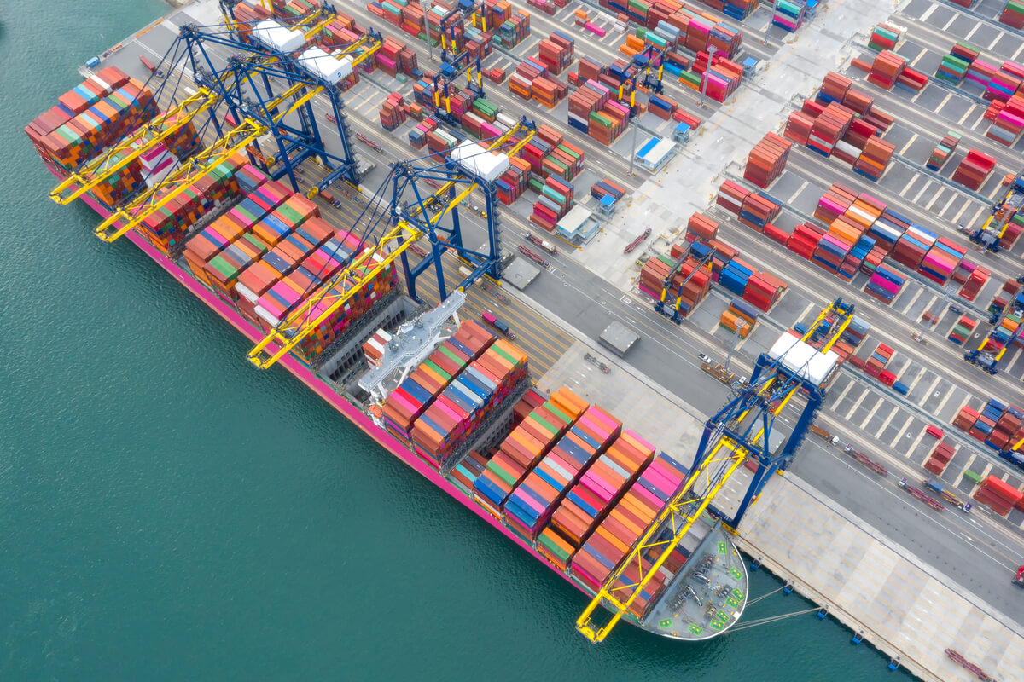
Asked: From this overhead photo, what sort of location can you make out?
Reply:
port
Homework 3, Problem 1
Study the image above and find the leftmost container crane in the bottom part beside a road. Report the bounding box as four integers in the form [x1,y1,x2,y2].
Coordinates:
[571,290,857,649]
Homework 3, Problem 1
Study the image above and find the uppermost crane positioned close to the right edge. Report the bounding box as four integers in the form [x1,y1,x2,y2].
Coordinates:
[972,169,1024,252]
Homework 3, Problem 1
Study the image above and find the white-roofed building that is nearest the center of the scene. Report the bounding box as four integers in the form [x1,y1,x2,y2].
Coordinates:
[556,205,595,245]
